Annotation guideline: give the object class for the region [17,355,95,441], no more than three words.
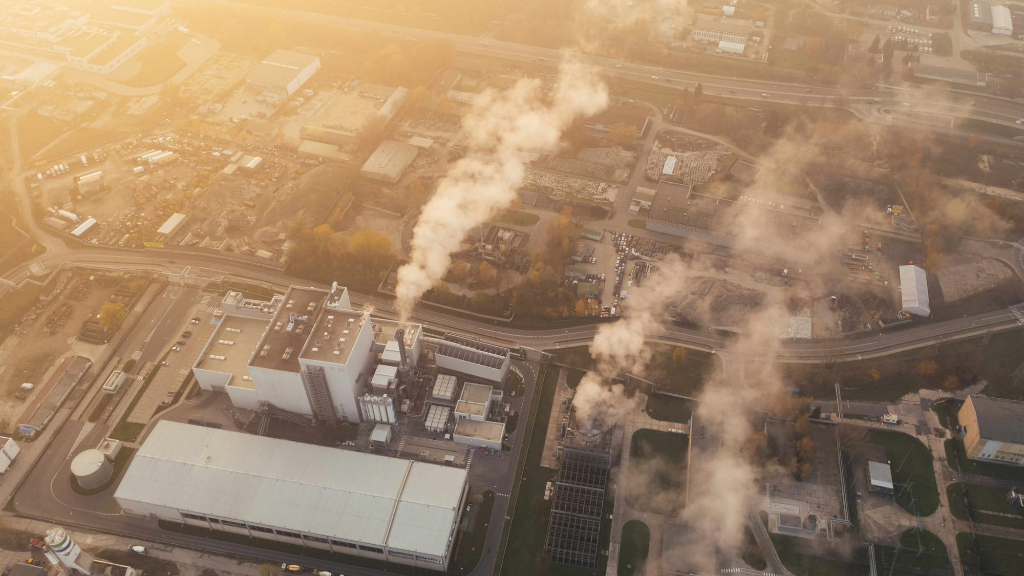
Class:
barn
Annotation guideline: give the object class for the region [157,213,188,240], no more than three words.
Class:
building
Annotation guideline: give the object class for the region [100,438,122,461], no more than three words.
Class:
building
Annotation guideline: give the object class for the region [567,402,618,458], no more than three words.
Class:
cooling tower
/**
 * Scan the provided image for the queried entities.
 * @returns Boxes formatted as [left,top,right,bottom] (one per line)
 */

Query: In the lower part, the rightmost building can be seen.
[959,394,1024,465]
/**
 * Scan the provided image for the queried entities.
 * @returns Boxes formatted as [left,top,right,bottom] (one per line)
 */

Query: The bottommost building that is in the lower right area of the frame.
[777,513,802,532]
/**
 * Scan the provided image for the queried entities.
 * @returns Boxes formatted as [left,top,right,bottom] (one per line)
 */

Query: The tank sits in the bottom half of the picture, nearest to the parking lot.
[71,448,114,489]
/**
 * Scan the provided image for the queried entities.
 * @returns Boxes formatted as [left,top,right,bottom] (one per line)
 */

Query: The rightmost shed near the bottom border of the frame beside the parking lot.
[113,419,474,572]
